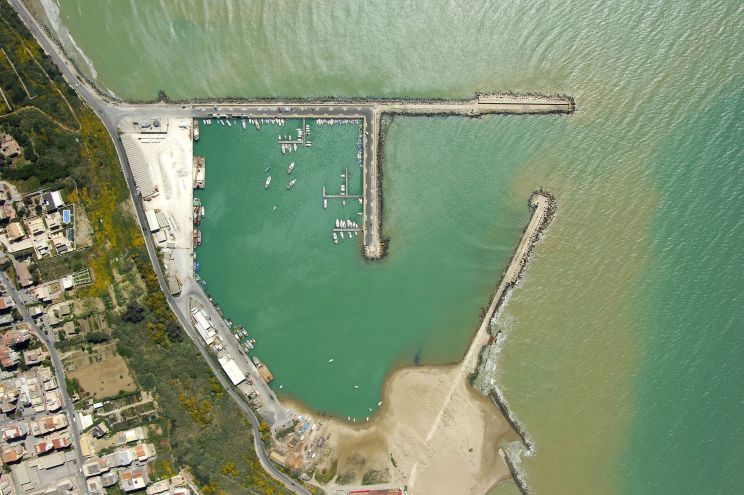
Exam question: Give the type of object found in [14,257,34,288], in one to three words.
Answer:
house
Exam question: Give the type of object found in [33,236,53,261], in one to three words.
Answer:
house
